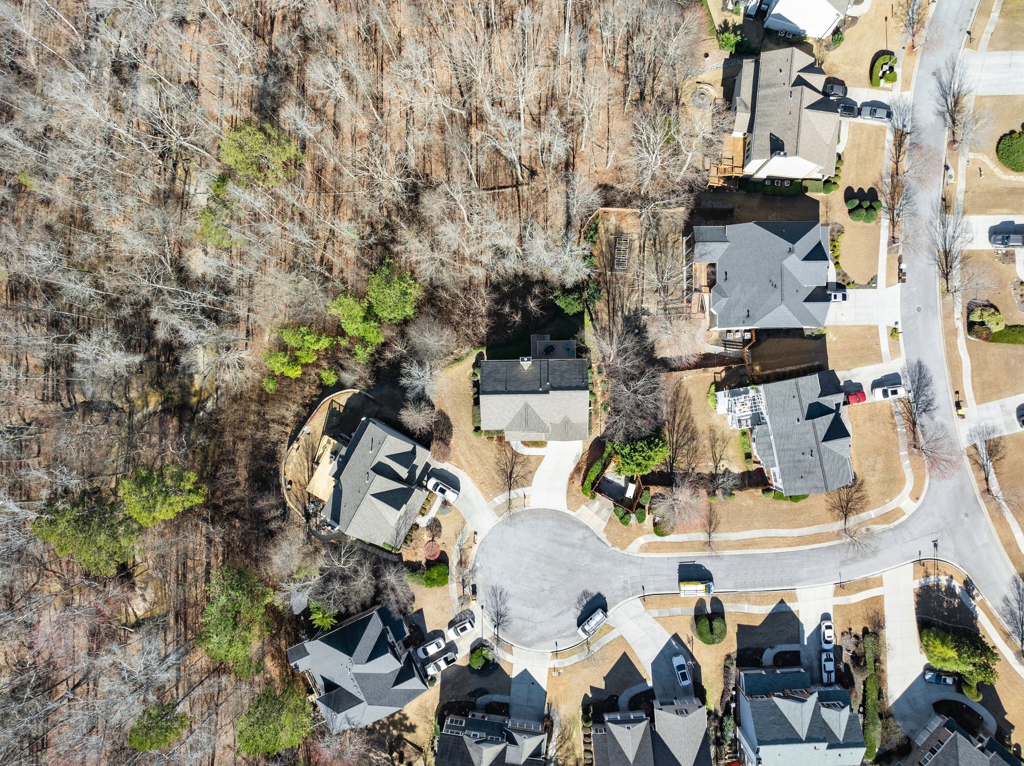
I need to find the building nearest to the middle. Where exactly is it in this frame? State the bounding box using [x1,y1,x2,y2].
[479,334,589,441]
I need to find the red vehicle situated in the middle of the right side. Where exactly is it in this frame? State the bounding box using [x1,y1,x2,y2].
[841,390,866,407]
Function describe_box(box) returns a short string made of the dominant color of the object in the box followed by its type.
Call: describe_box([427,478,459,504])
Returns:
white car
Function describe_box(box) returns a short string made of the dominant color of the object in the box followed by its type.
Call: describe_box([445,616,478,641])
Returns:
white car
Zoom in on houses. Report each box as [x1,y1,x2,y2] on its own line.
[889,710,1024,766]
[718,665,866,766]
[590,691,712,766]
[479,334,589,441]
[725,0,855,39]
[287,601,429,735]
[688,221,831,332]
[434,711,547,766]
[304,418,430,549]
[716,370,854,496]
[708,47,840,189]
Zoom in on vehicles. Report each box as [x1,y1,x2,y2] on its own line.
[841,390,866,407]
[678,579,715,597]
[427,478,459,504]
[445,616,478,641]
[576,606,611,640]
[419,636,448,658]
[860,105,892,121]
[838,101,861,119]
[425,650,461,677]
[819,618,835,650]
[828,288,850,303]
[819,651,836,683]
[672,654,692,688]
[822,81,848,98]
[871,385,905,402]
[989,232,1024,248]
